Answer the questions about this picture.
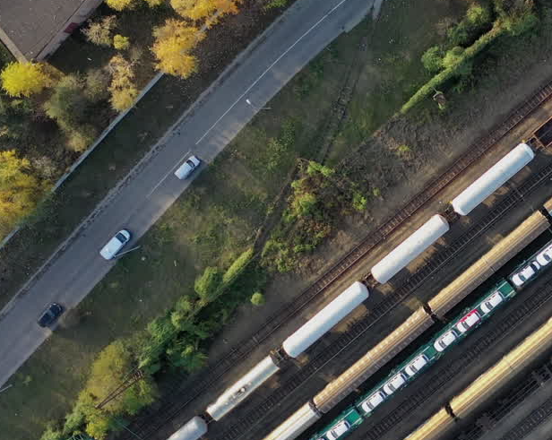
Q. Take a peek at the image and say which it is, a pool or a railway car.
railway car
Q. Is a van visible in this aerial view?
Yes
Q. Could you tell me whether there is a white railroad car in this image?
Yes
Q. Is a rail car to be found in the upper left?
No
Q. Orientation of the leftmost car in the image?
at an angle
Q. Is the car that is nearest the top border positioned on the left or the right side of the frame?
left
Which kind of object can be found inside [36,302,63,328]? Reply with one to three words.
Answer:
car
